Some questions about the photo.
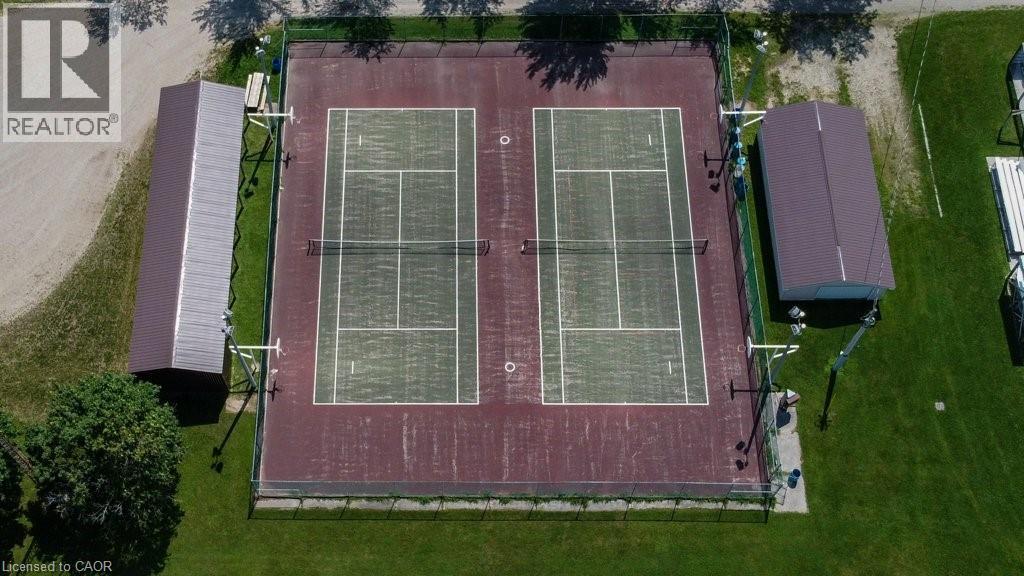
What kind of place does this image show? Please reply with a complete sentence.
What you see here is a sports ground.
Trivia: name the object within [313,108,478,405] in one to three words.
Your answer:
tennis court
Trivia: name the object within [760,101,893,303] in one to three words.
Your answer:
shed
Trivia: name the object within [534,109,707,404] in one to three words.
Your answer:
tennis court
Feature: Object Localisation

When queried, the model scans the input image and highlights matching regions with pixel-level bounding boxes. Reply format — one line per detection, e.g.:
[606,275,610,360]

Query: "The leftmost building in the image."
[126,80,250,392]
